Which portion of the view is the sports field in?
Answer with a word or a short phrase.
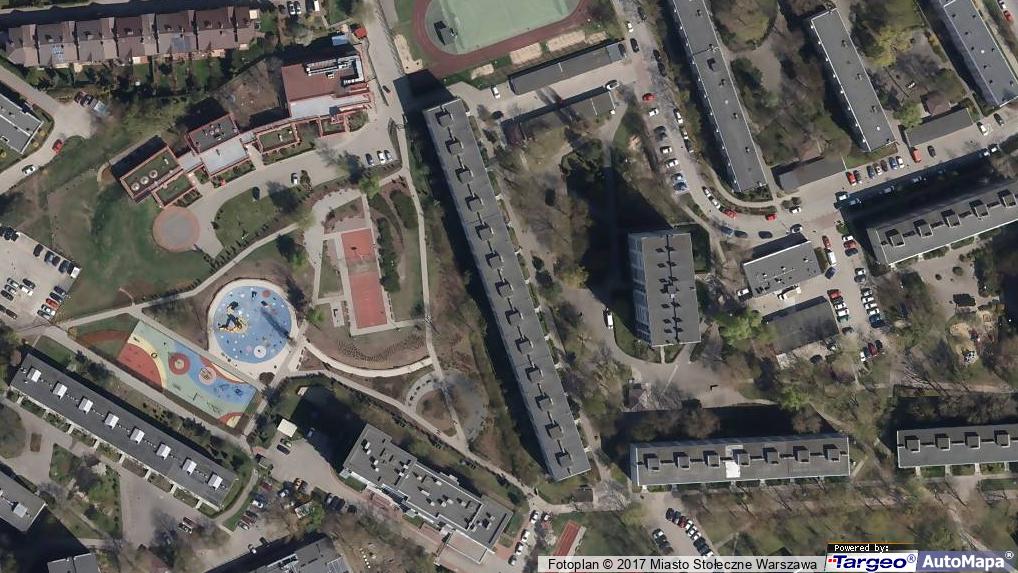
top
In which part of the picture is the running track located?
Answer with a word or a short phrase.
top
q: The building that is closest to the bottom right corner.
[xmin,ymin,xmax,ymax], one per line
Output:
[888,420,1018,472]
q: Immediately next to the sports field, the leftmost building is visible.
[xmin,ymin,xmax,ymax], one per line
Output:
[121,55,372,208]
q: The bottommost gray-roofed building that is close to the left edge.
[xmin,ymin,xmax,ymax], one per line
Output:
[48,544,100,573]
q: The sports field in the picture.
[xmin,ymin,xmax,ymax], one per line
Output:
[413,0,594,78]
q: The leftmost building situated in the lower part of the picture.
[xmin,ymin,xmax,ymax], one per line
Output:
[0,467,48,530]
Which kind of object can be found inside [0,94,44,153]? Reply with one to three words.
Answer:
building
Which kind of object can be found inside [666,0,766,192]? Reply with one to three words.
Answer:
building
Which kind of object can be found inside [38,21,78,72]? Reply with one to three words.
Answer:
house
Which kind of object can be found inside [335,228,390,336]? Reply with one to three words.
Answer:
sports court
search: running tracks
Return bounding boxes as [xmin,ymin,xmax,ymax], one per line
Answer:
[413,0,594,78]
